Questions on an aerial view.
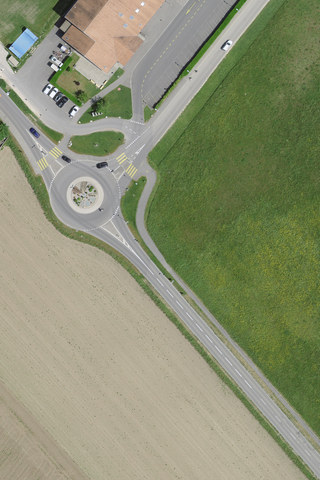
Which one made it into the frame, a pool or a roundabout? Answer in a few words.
roundabout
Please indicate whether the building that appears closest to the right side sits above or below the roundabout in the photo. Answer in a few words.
above it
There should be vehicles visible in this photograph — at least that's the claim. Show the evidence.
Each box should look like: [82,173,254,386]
[222,40,232,50]
[54,92,62,102]
[58,96,67,107]
[30,128,40,138]
[96,162,108,168]
[44,84,52,94]
[61,154,72,164]
[51,56,63,67]
[49,88,58,98]
[69,105,78,116]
